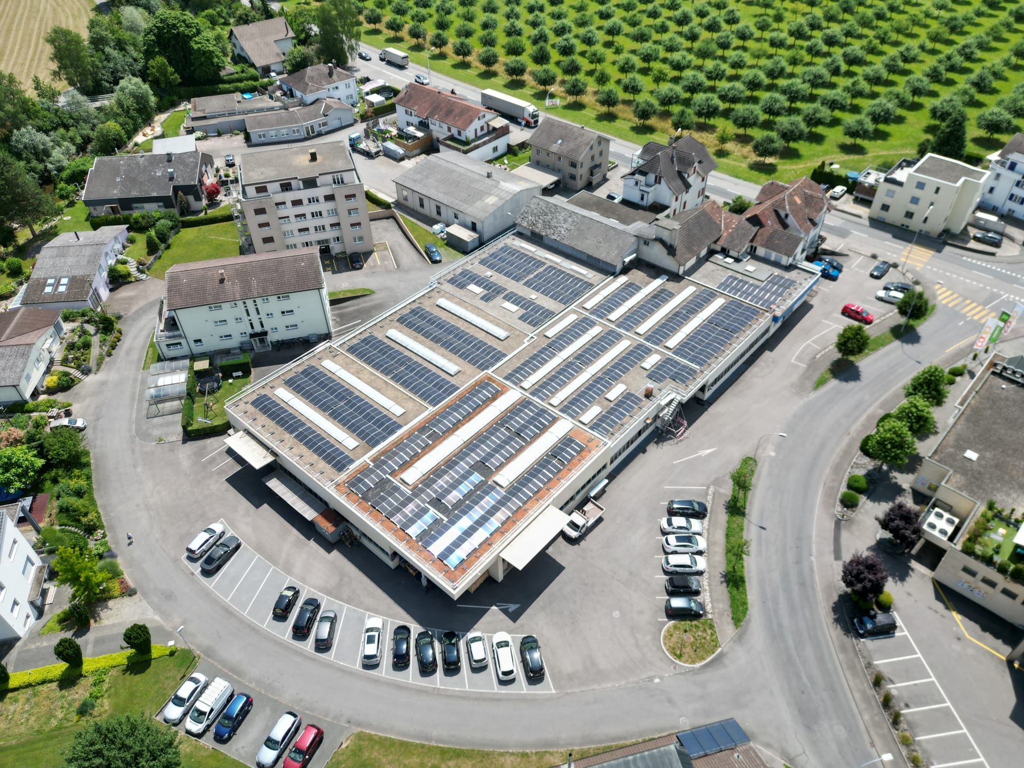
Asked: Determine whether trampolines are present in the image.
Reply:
Yes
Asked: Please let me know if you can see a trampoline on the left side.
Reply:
Yes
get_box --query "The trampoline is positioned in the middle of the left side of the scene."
[191,364,222,390]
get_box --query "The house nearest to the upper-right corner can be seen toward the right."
[980,133,1024,220]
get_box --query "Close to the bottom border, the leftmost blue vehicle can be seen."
[214,691,255,743]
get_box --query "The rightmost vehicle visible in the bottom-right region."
[850,611,903,637]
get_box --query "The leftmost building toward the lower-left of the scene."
[0,523,66,641]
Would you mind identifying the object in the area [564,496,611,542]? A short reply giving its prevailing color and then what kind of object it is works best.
white truck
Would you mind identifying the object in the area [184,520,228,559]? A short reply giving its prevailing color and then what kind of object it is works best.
white car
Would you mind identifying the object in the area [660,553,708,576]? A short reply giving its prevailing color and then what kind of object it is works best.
white car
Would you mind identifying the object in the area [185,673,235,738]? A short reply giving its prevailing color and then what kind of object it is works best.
white van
